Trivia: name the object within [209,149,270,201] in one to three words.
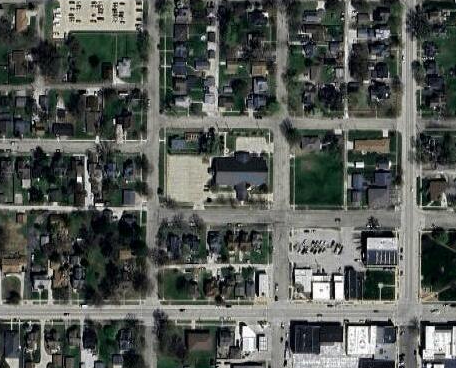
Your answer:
building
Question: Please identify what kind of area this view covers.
residential area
